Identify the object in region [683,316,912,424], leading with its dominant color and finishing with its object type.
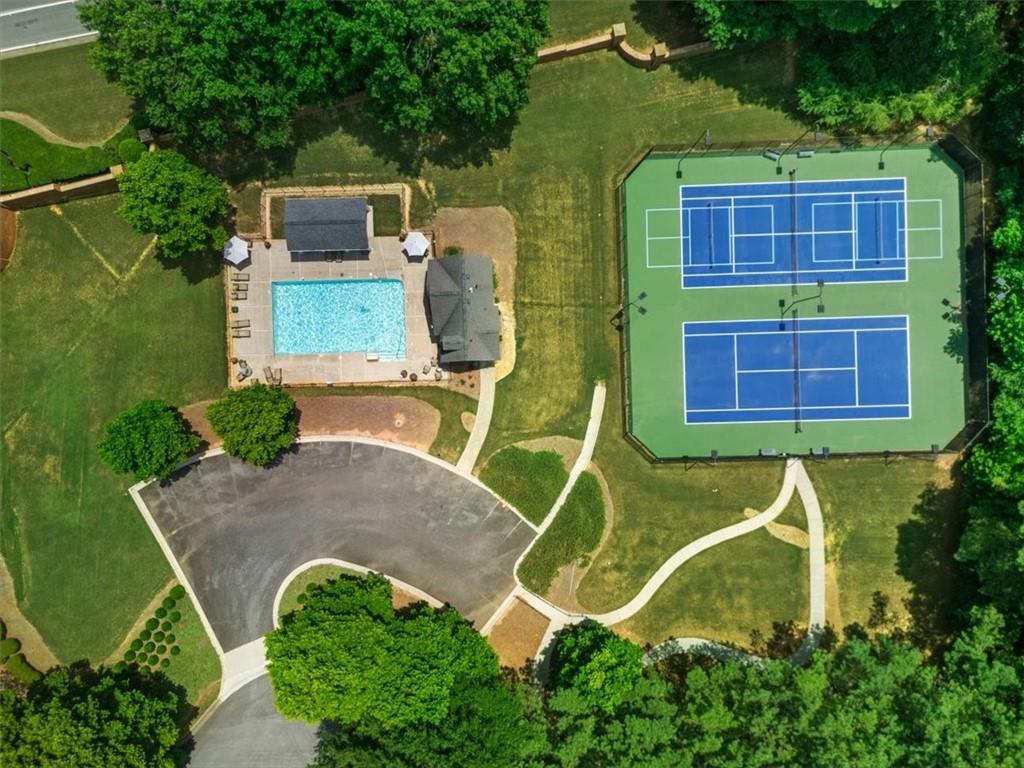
blue tennis court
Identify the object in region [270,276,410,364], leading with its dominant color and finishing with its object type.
blue swimming pool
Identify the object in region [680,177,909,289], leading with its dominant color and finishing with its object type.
blue tennis court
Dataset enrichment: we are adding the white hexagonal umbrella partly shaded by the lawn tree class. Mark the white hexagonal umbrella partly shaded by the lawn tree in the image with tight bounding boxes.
[225,237,249,263]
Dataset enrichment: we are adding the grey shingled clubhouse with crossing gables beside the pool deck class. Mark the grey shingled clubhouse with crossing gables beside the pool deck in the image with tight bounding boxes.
[428,255,501,362]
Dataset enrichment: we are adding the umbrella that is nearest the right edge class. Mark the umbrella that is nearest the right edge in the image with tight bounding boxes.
[403,233,429,255]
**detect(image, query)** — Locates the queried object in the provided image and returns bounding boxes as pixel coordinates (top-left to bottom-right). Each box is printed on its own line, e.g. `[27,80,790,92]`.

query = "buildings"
[284,196,374,256]
[428,255,501,362]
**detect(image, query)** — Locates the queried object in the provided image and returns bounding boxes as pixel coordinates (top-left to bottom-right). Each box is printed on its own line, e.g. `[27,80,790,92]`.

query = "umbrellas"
[403,233,429,255]
[225,237,249,263]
